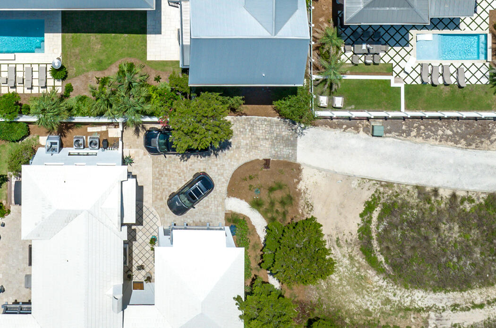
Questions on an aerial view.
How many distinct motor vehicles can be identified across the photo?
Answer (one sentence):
I count 2 motor vehicles.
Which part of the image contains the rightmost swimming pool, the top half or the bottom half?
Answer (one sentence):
The rightmost swimming pool sits in the top half of the picture.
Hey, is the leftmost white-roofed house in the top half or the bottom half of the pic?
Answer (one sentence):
It is in the bottom half that the leftmost white-roofed house appears.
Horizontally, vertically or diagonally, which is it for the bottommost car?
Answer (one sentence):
What the image shows is the bottommost car lying diagonally.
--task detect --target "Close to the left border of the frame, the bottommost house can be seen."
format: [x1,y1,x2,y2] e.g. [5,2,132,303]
[0,146,136,328]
